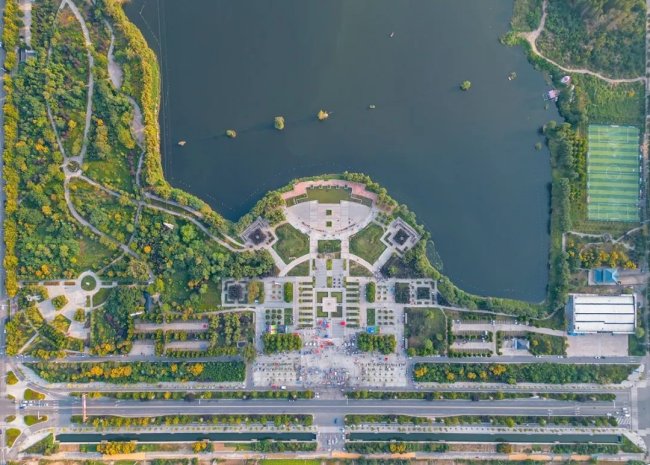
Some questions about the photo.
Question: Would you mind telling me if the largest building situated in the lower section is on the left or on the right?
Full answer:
You can find the largest building situated in the lower section on the right side of the picture.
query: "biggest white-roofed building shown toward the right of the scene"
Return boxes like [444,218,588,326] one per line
[566,293,636,335]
